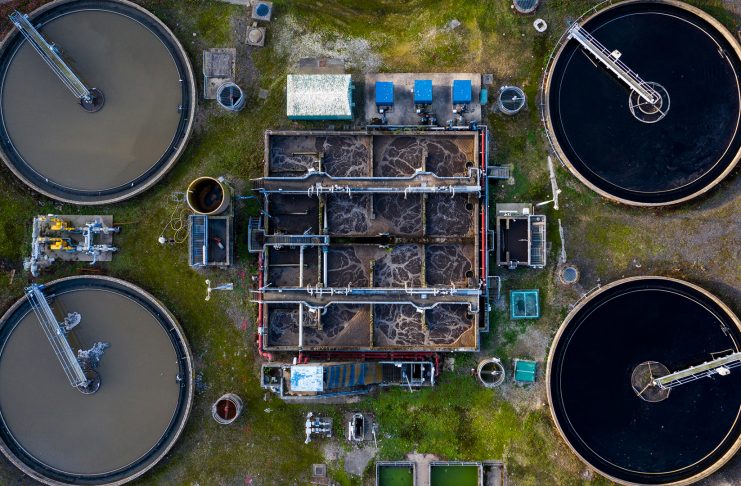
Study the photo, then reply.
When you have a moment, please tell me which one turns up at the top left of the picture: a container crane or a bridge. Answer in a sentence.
Visible at the top left of the picture is a bridge.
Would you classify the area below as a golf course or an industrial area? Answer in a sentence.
This looks like an industrial area.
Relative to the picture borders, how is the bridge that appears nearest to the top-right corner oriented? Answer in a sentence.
What the image shows is the bridge that appears nearest to the top-right corner lying diagonally.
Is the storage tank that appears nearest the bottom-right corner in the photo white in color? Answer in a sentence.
No, the color of the storage tank that appears nearest the bottom-right corner is black.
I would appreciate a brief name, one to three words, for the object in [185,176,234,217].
storage tank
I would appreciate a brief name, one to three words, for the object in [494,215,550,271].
storage tank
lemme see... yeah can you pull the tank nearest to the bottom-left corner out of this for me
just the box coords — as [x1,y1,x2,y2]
[0,275,198,486]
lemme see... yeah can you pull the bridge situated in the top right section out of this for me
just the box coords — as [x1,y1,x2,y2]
[565,22,662,107]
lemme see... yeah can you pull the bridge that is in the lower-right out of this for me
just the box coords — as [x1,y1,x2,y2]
[651,348,741,390]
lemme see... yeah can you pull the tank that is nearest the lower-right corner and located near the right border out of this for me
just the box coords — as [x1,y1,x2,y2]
[544,275,741,486]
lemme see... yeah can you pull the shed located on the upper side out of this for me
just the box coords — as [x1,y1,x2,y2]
[287,74,356,121]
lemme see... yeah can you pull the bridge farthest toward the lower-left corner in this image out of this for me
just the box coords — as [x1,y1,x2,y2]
[22,283,87,391]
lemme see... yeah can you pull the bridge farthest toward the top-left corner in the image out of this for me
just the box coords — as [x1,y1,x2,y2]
[3,6,92,99]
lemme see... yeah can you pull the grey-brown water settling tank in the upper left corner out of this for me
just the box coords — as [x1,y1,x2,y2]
[0,0,200,205]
